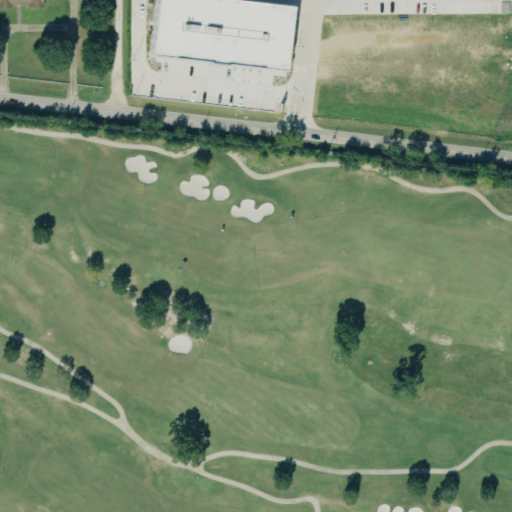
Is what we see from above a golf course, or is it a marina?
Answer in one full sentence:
What you see here is a golf course.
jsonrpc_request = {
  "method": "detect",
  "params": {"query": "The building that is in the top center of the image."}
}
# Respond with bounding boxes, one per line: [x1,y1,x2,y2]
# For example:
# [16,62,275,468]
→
[153,0,298,72]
